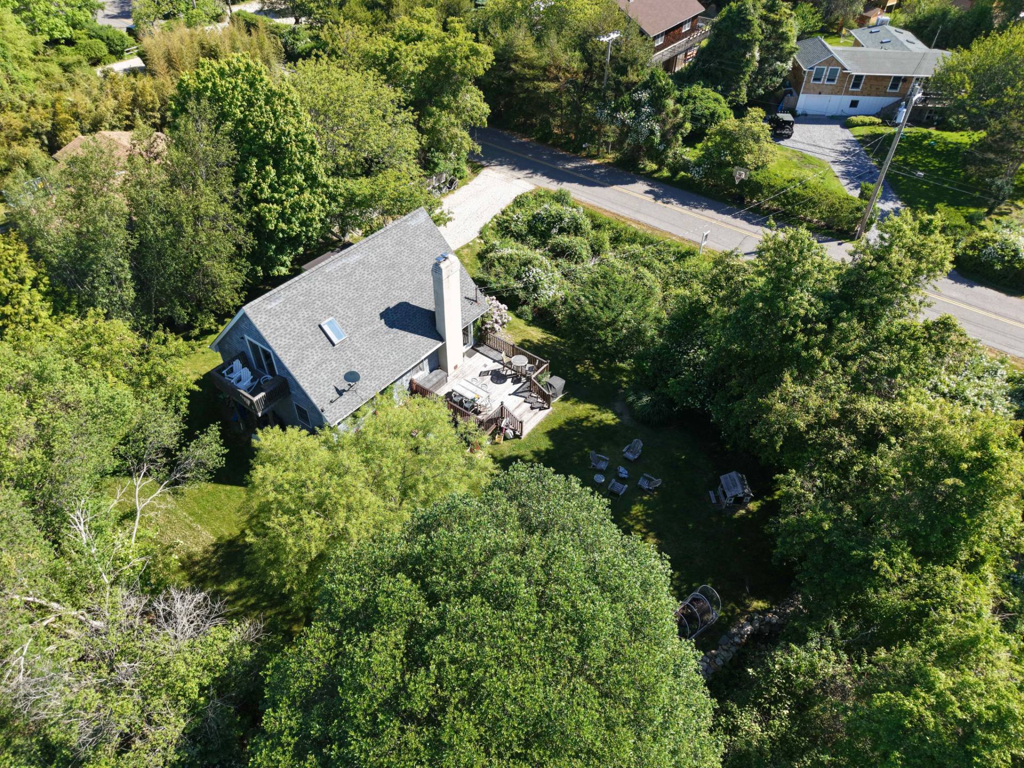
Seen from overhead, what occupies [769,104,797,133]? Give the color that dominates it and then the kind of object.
black car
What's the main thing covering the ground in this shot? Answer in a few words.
trees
